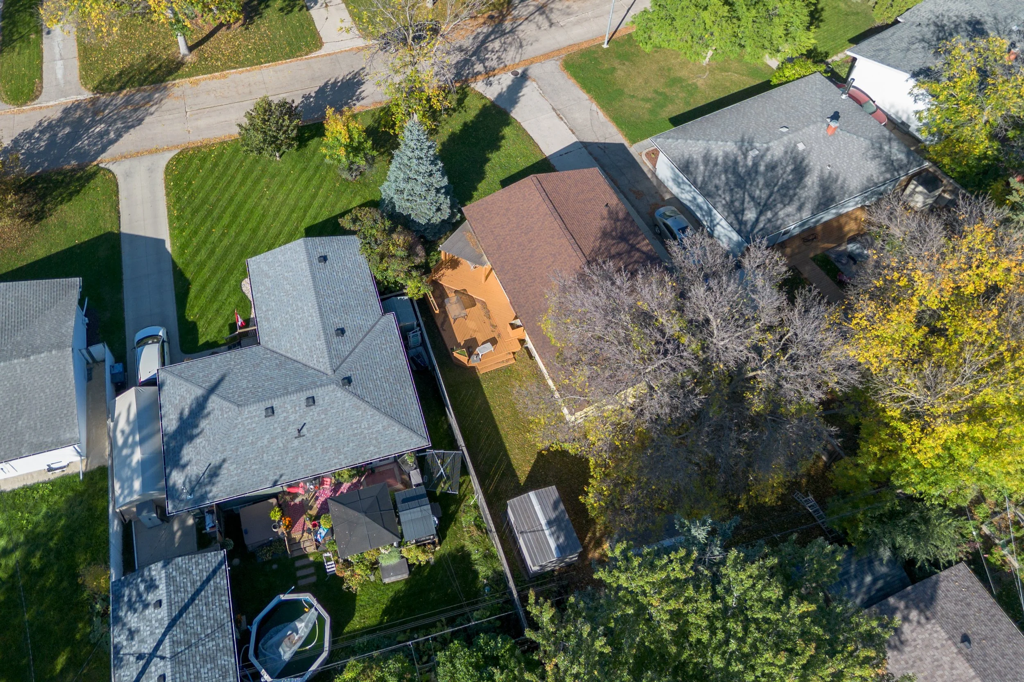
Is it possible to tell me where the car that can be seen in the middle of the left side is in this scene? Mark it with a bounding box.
[131,327,174,386]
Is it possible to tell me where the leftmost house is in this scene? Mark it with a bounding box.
[0,278,114,483]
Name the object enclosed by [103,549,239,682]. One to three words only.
building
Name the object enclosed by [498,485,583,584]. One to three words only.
shed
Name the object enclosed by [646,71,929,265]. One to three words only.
house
